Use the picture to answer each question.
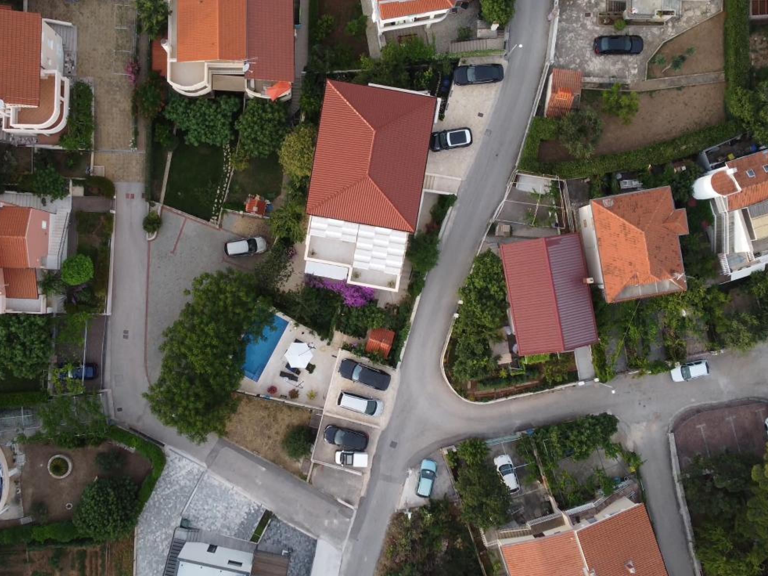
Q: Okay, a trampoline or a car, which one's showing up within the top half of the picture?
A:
car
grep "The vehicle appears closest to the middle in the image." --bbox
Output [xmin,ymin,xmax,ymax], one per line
[336,356,393,391]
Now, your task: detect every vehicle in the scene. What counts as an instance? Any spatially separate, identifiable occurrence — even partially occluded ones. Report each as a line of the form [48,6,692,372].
[666,357,711,383]
[335,450,368,469]
[495,450,520,496]
[415,457,438,499]
[222,233,271,258]
[335,389,385,418]
[336,356,393,391]
[322,423,371,450]
[590,31,644,57]
[450,62,504,88]
[428,126,477,154]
